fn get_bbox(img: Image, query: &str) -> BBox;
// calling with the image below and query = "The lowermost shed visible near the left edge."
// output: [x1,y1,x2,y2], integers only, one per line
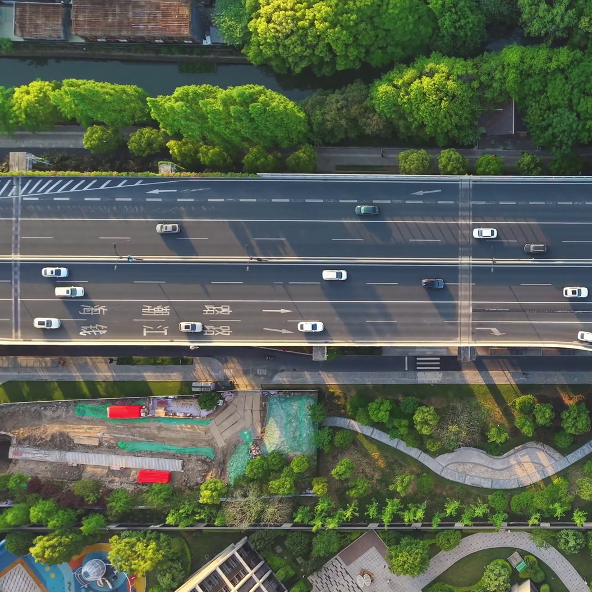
[9,445,187,471]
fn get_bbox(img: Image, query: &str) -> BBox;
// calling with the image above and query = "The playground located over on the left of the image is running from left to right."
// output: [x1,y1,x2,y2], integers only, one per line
[0,538,148,592]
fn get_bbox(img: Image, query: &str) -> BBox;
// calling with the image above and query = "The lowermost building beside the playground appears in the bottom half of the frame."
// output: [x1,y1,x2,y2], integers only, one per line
[184,537,290,592]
